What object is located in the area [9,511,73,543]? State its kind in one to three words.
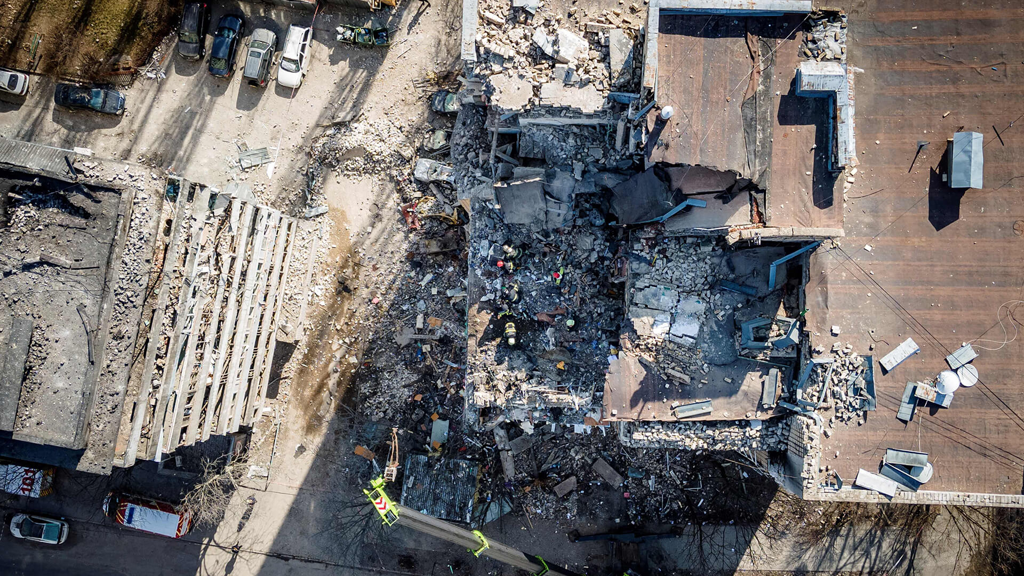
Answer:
car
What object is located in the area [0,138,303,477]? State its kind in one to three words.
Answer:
building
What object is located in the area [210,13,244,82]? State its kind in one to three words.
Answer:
car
